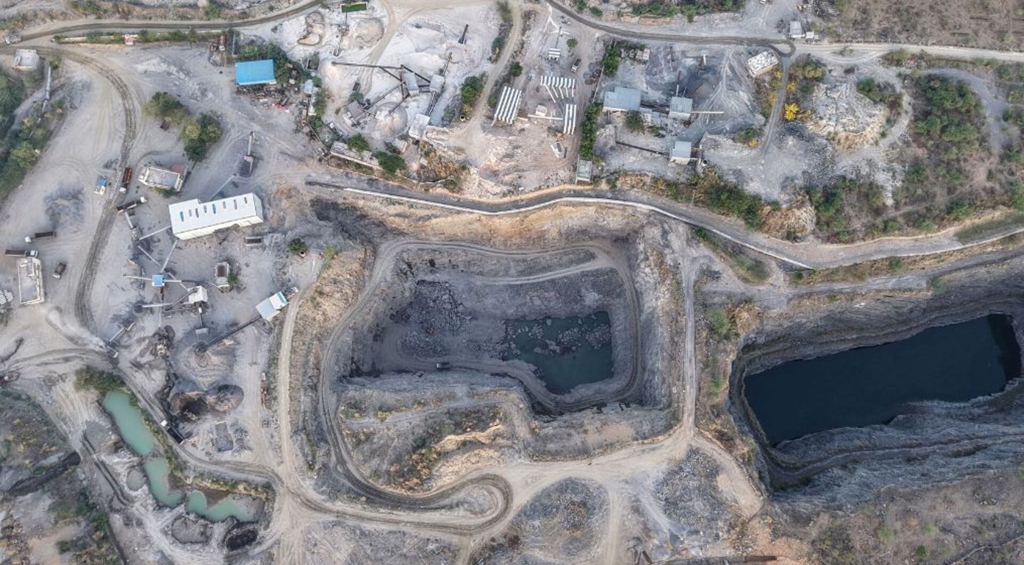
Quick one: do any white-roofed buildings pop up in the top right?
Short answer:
Yes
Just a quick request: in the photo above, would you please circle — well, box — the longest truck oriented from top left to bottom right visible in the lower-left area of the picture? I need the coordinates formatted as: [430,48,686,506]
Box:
[156,417,185,446]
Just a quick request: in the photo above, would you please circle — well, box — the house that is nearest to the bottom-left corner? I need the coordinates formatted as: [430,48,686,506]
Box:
[18,258,52,307]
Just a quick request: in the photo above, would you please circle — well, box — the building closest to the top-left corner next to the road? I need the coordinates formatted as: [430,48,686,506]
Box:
[14,49,44,72]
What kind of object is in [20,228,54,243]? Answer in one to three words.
vehicle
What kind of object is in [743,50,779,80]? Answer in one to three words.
house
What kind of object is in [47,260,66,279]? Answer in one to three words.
vehicle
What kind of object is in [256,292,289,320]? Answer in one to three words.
shed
